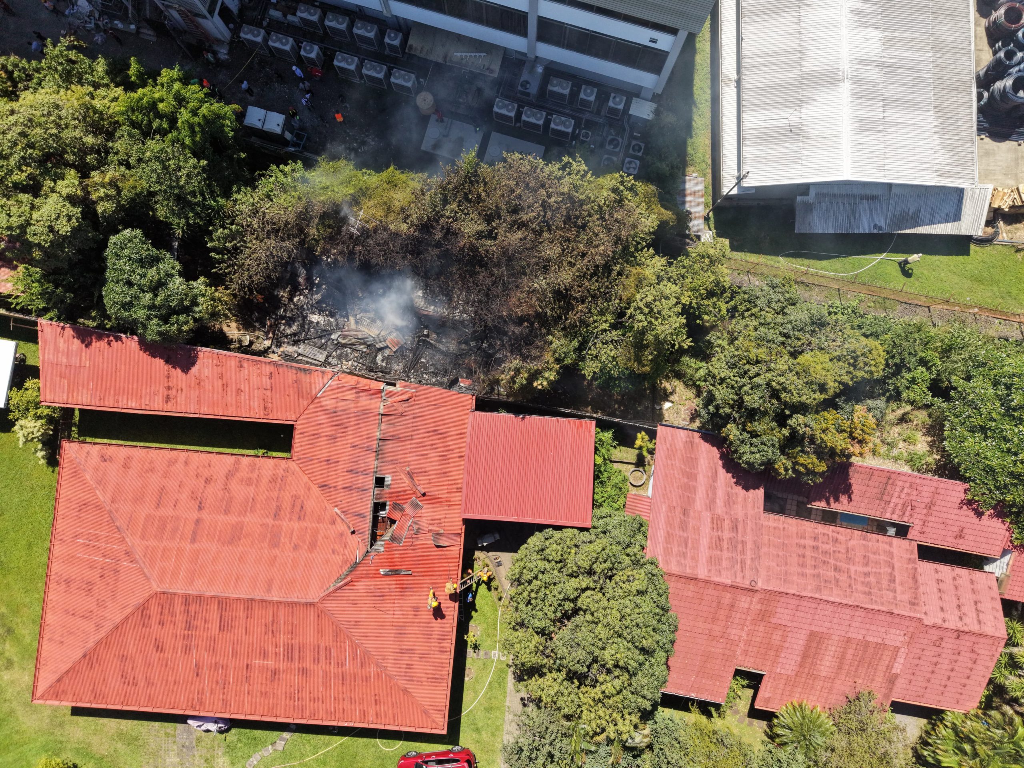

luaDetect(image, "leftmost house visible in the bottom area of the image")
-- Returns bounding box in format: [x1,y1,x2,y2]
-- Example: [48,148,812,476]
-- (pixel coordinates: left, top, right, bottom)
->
[32,318,476,734]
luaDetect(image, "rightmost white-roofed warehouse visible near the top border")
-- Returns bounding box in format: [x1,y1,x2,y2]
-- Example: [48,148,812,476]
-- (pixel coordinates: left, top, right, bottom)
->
[715,0,979,209]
